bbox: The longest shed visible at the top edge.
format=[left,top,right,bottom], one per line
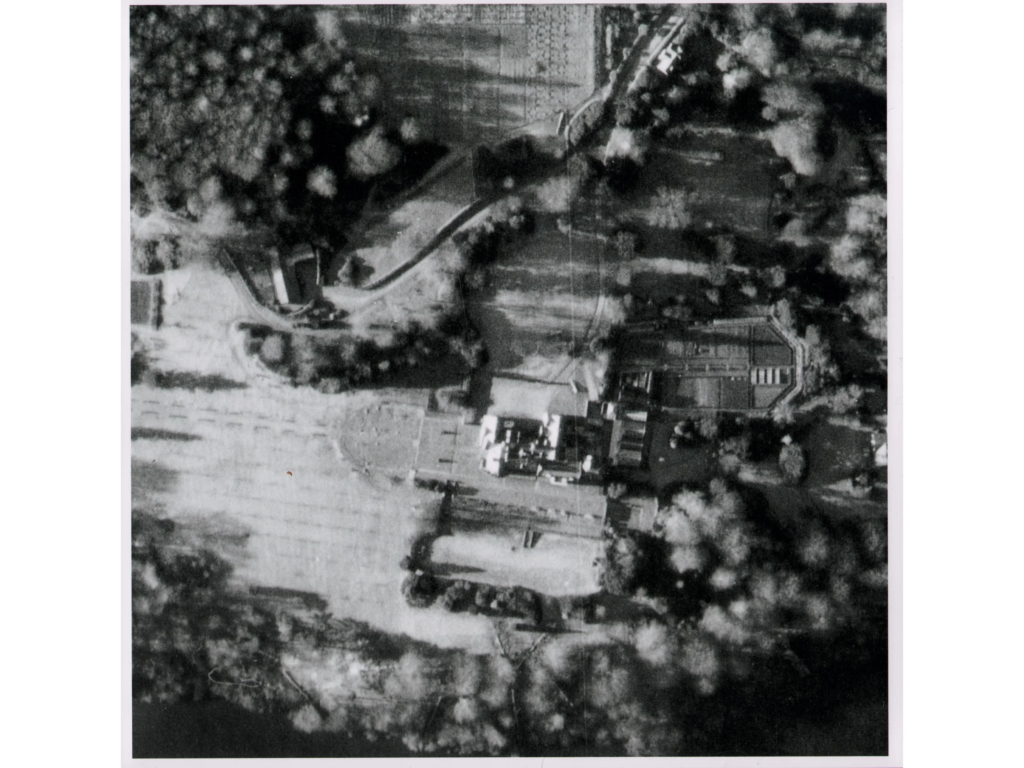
[647,16,685,63]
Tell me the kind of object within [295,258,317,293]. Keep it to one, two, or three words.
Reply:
shed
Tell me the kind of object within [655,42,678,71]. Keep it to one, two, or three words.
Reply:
house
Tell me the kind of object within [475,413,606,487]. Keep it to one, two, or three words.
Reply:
house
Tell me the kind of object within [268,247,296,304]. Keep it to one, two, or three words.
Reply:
barn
